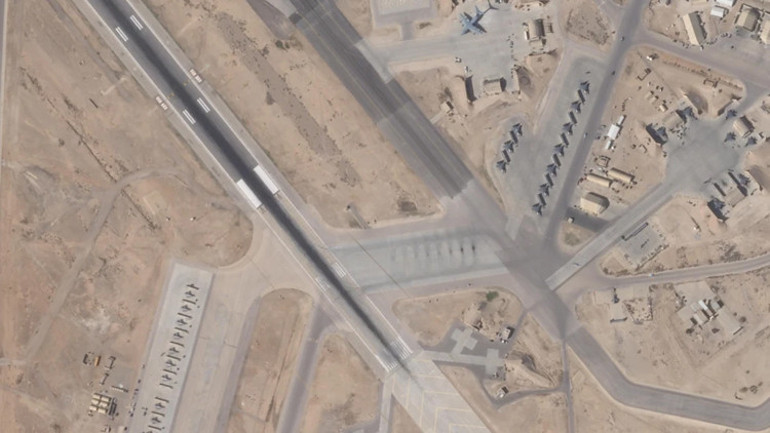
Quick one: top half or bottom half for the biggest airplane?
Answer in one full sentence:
You can find the biggest airplane in the top half.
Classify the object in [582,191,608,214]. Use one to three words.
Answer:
hangar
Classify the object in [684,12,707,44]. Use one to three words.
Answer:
hangar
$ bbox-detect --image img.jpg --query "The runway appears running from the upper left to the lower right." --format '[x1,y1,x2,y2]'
[86,0,413,372]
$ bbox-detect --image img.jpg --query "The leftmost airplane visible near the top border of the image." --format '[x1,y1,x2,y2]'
[461,8,487,35]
